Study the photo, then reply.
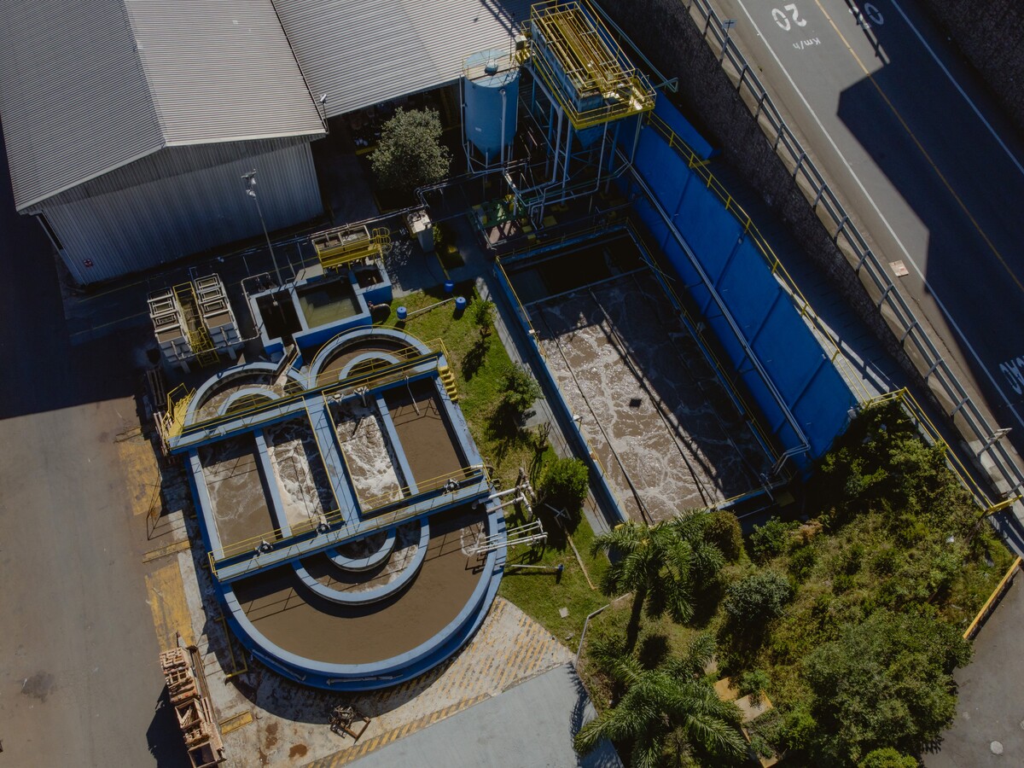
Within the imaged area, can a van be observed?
No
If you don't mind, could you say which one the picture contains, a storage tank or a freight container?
storage tank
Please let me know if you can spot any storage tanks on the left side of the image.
Yes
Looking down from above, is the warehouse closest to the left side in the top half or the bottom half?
top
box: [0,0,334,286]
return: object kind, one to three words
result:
warehouse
